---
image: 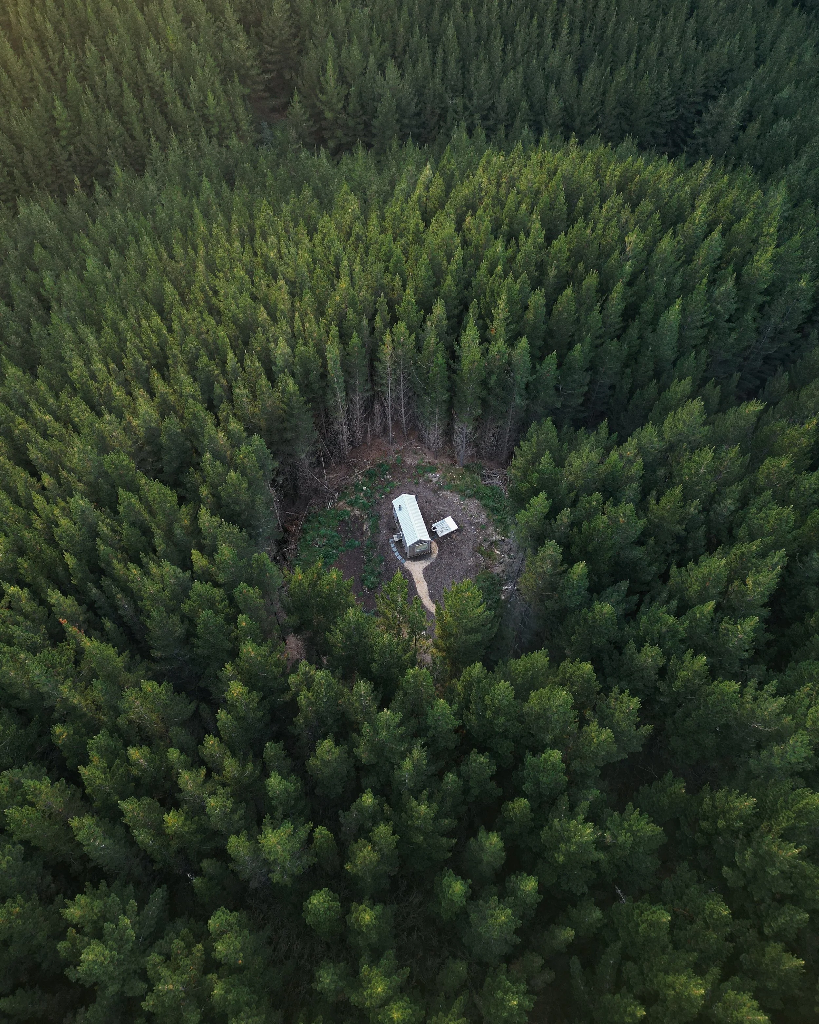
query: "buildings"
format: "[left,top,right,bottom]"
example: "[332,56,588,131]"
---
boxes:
[389,491,433,558]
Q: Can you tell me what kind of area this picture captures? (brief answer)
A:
forest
